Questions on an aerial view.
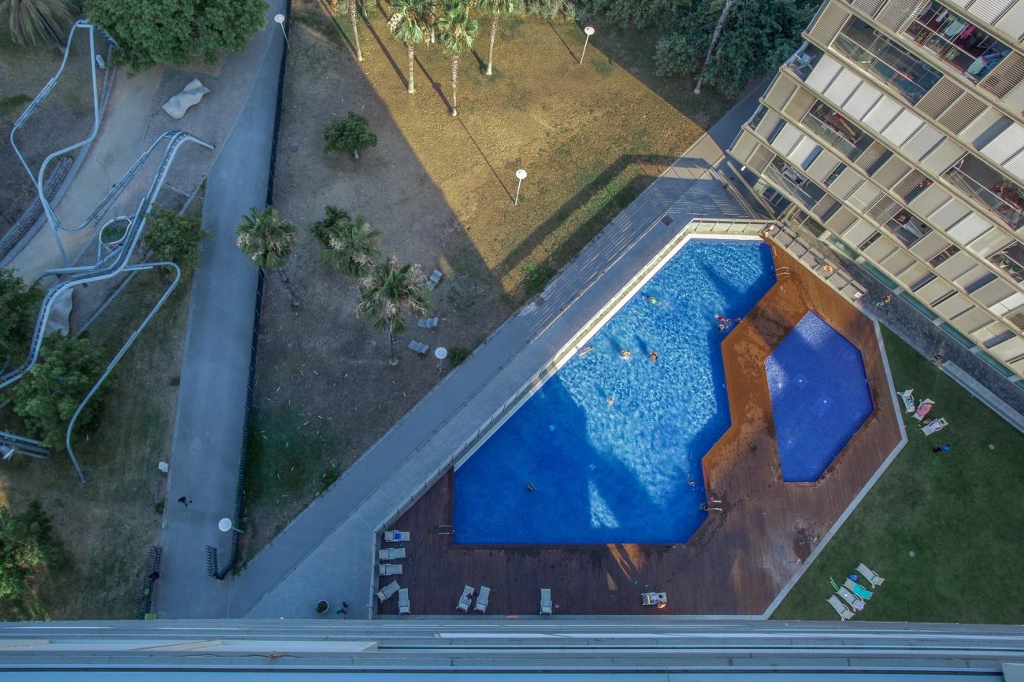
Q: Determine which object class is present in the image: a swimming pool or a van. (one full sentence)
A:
It is a swimming pool that can be seen here.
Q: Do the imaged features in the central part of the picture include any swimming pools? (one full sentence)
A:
Yes, a swimming pool shows up in the central part of the picture.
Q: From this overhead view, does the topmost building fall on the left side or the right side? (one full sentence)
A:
The topmost building is on the right side of the image.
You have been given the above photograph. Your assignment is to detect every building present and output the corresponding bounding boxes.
[725,0,1024,398]
[0,619,1024,682]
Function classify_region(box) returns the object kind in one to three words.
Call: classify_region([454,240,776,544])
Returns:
swimming pool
